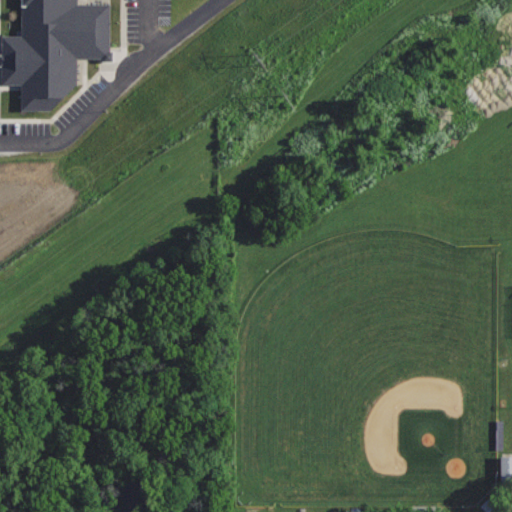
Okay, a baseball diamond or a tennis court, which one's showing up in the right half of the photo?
baseball diamond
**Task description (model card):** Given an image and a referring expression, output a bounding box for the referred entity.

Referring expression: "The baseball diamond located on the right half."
[238,232,497,505]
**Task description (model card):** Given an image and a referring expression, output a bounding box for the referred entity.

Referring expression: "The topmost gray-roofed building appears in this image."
[0,0,112,111]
